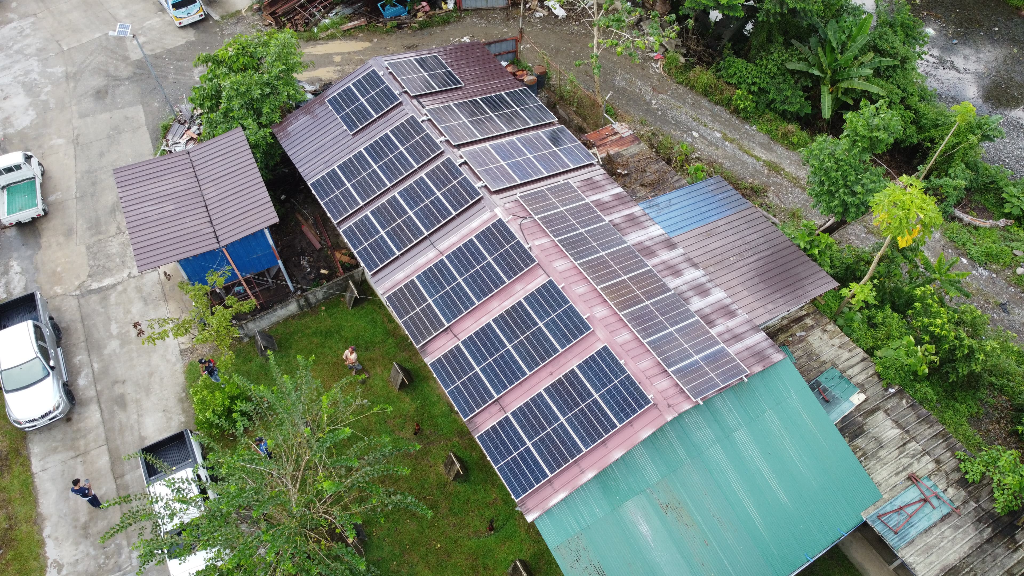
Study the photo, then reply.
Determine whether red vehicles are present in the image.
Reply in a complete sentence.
No, no red vehicle is visible in the scene.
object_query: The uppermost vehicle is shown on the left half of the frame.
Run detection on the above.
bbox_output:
[166,0,205,28]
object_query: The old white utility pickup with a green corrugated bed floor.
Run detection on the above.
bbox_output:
[0,148,52,228]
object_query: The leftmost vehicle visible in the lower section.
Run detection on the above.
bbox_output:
[0,291,80,431]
